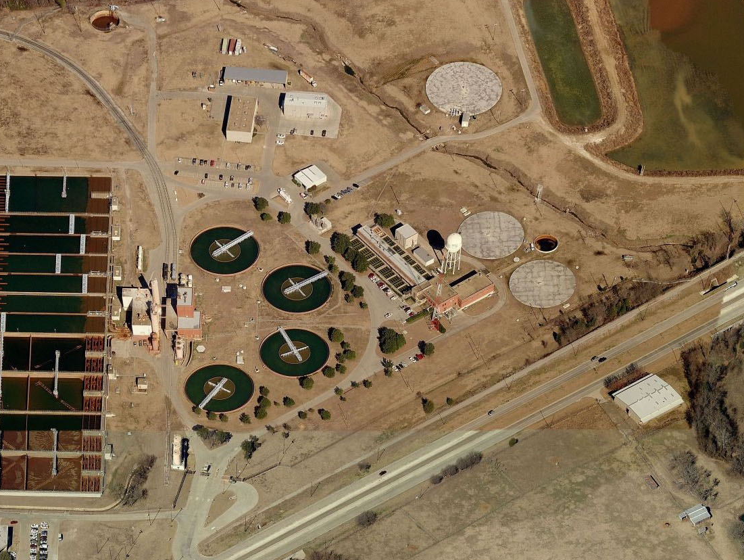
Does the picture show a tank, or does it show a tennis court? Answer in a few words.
tank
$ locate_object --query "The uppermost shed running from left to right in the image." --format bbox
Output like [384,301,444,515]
[223,68,288,89]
